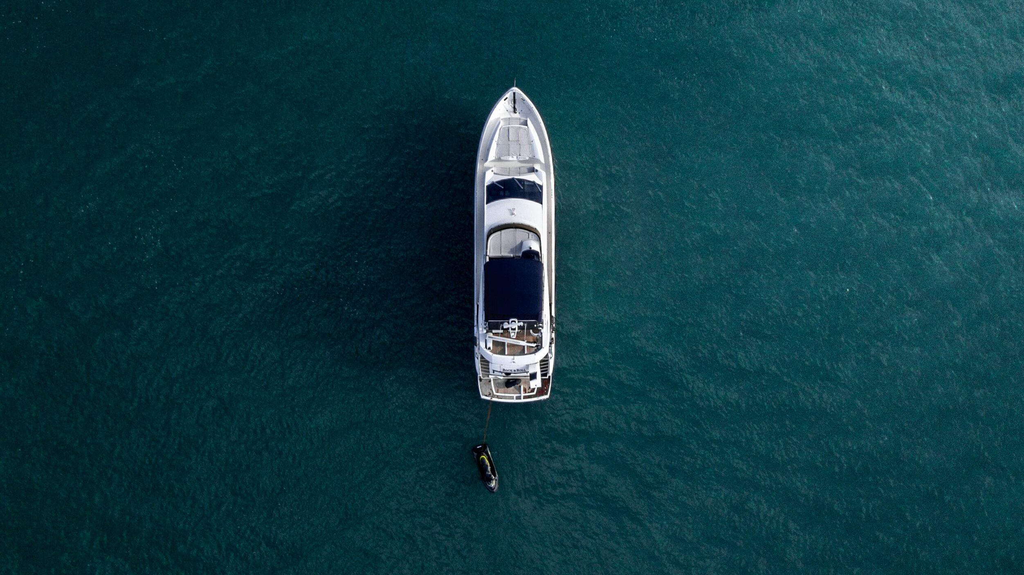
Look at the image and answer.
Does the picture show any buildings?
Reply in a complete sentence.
No, no building is visible in the scene.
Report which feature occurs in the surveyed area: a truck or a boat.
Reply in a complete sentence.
Visible in the photo is a boat.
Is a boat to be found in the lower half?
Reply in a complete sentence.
Yes, looking in the lower half, one can make out a boat.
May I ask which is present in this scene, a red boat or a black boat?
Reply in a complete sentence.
I can see a black boat in this picture.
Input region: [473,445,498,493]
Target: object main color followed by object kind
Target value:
black boat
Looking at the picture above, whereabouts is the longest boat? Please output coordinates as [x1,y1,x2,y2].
[474,82,556,402]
